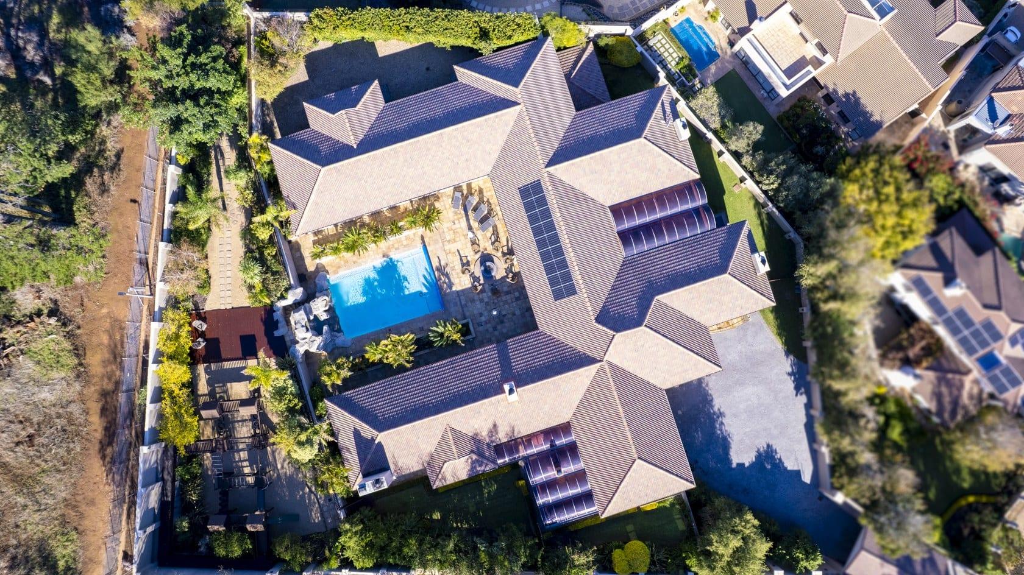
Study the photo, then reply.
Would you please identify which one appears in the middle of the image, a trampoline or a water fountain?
water fountain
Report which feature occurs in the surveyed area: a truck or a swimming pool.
swimming pool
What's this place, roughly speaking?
residential area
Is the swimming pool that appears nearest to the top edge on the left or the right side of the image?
right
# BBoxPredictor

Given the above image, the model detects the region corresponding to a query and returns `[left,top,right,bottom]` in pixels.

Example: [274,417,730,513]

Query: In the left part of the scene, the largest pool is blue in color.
[328,242,448,340]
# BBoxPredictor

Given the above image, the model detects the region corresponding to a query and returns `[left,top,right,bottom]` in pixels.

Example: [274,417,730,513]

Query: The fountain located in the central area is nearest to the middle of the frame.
[474,255,502,283]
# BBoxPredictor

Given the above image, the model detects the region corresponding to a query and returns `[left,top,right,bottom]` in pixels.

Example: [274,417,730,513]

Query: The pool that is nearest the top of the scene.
[668,14,722,74]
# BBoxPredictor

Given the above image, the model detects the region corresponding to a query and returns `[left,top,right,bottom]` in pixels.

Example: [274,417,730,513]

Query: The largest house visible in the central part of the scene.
[267,36,776,529]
